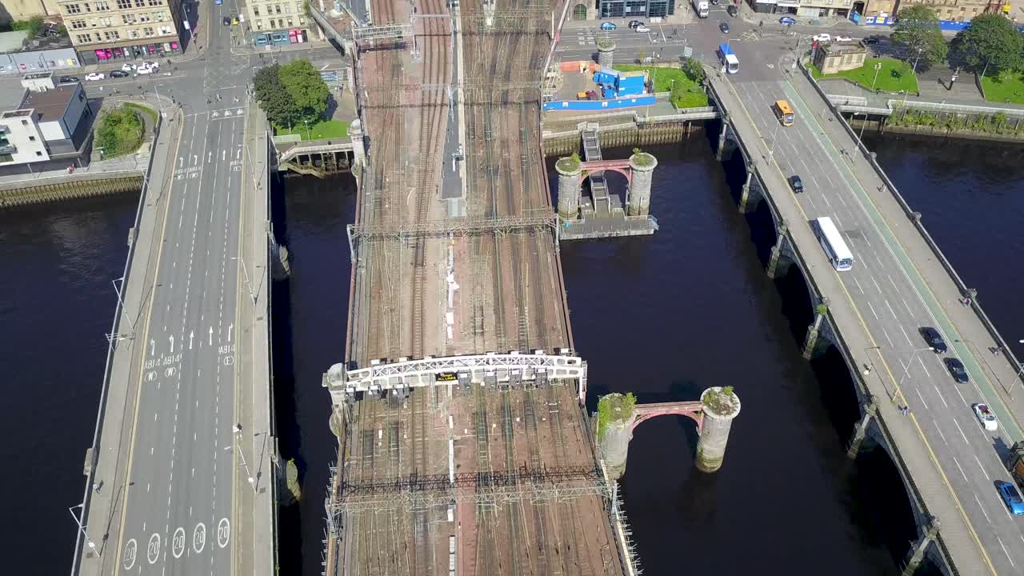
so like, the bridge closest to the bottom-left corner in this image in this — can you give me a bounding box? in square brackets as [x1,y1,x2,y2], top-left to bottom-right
[70,96,300,576]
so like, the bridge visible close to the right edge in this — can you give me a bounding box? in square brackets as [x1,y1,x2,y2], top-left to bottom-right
[702,72,1024,576]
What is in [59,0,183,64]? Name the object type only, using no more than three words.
building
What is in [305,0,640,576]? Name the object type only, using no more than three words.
bridge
